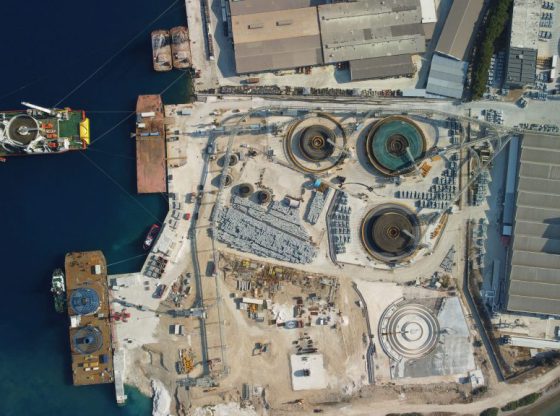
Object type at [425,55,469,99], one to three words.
building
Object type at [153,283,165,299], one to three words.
vehicle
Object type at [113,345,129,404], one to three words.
pier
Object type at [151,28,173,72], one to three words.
ship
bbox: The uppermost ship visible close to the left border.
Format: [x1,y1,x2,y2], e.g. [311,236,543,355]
[0,99,90,154]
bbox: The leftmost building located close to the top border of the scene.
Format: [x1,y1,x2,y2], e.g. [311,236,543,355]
[229,0,324,77]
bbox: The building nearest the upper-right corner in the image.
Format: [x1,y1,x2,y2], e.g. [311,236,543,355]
[505,0,540,51]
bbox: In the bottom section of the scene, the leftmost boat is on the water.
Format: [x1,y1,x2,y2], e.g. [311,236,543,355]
[51,269,66,313]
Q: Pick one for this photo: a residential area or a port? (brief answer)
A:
port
